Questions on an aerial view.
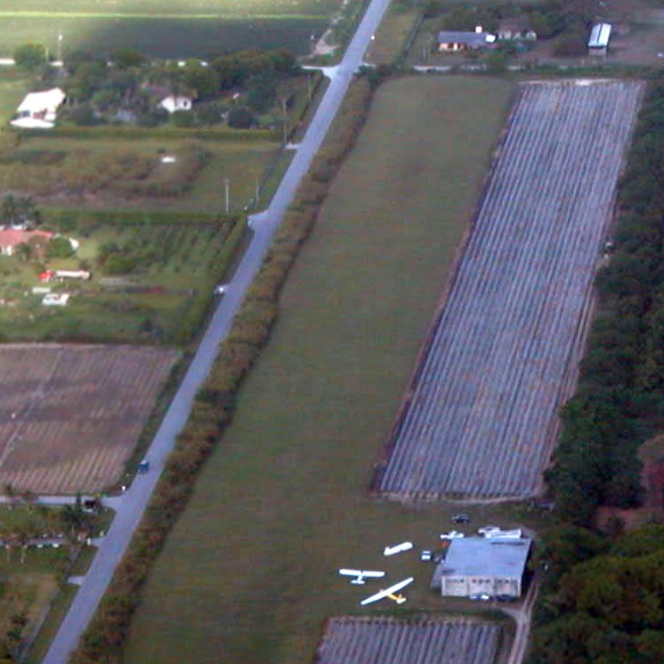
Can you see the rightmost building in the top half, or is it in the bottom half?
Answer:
top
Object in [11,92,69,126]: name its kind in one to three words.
barn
